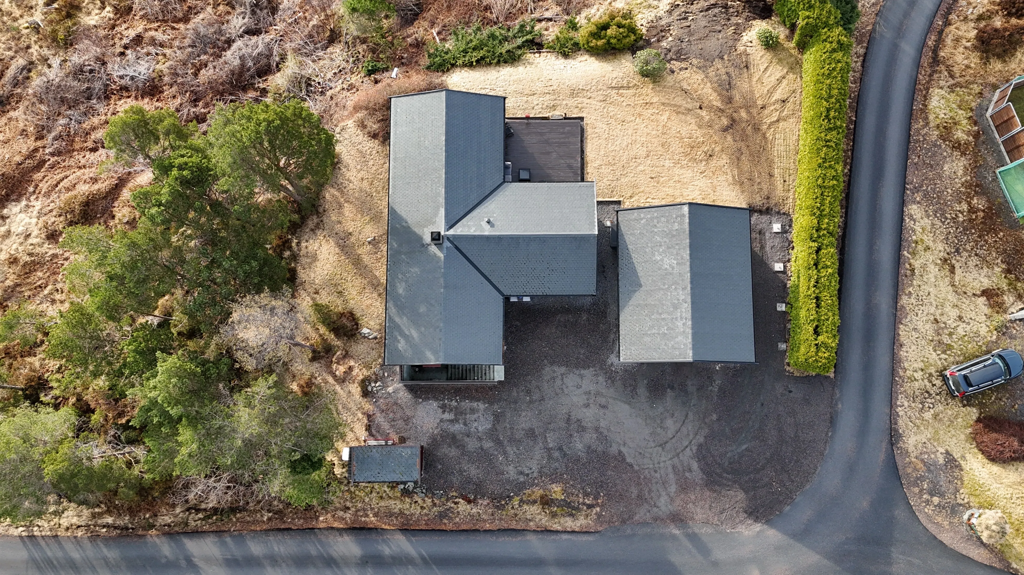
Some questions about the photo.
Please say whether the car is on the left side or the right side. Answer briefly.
right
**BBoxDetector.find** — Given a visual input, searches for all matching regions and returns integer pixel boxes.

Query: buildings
[612,201,759,364]
[381,86,600,366]
[349,444,425,488]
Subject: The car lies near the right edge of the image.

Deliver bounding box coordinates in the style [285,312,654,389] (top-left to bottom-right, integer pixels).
[942,351,1024,400]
